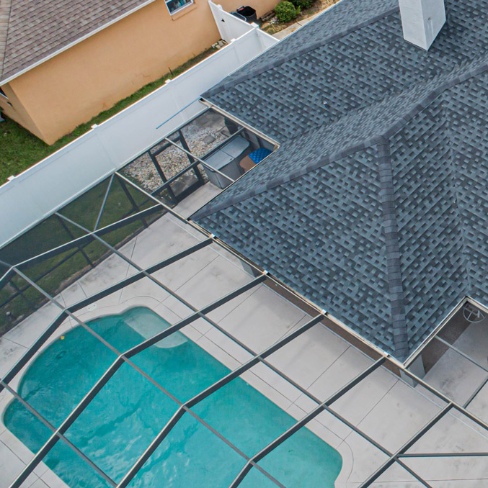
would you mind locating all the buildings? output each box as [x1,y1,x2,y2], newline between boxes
[183,0,488,386]
[0,0,280,143]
